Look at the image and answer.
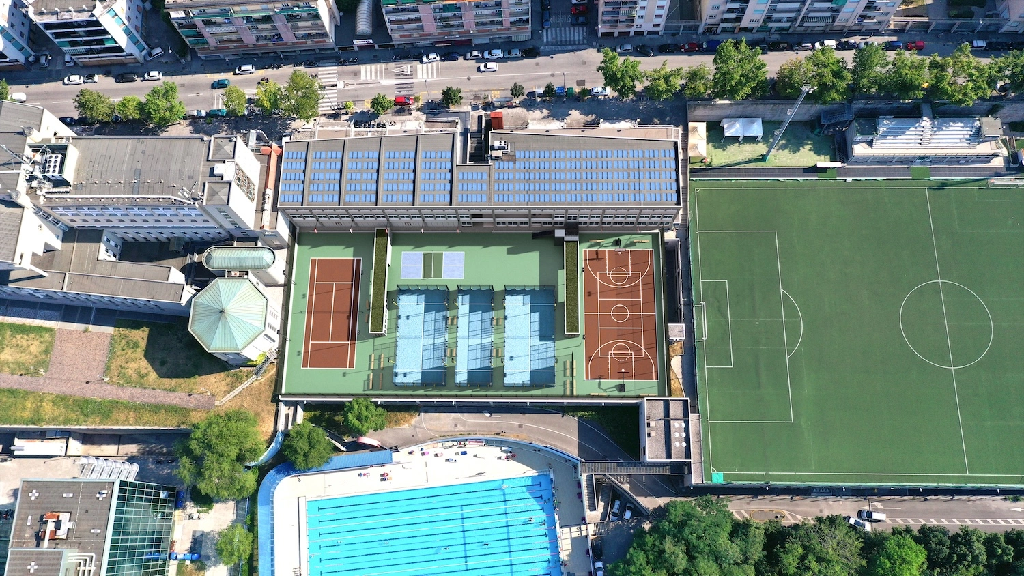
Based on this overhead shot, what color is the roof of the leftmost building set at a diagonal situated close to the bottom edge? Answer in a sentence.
The color of the roof on the leftmost building set at a diagonal situated close to the bottom edge is blue.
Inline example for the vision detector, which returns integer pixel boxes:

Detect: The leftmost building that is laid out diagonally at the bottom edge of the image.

[258,450,394,576]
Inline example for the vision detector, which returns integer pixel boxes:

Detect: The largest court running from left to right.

[401,250,465,280]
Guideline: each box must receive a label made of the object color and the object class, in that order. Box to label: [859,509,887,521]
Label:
white vehicle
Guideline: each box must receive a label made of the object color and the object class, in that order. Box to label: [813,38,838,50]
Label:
white vehicle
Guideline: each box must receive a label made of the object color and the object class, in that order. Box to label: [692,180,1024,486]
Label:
green soccer field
